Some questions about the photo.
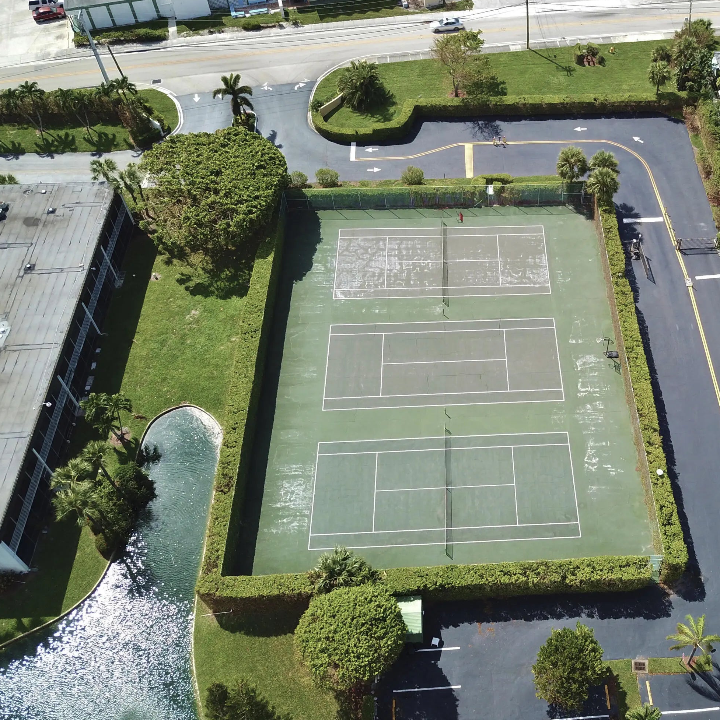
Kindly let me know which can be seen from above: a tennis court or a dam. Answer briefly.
tennis court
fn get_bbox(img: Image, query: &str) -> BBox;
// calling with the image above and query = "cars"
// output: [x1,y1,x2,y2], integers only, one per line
[431,18,463,35]
[31,5,64,22]
[26,0,62,11]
